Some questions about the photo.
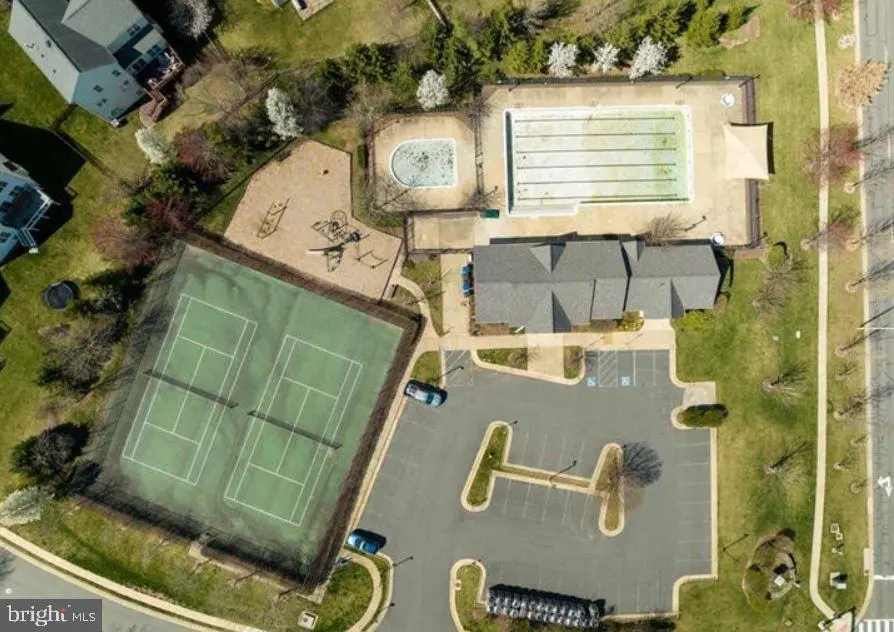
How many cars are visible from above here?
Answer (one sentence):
The number of cars here is 2.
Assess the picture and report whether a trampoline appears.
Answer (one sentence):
Yes, the frame does contain a trampoline.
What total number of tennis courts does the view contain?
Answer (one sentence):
I count 2 tennis courts.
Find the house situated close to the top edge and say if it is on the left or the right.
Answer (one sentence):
The house situated close to the top edge is on the left side of the image.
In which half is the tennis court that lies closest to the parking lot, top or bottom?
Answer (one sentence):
You can find the tennis court that lies closest to the parking lot in the bottom half.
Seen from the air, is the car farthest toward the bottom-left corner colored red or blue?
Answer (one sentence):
In this view, the car farthest toward the bottom-left corner is blue.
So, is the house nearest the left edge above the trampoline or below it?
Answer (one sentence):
The house nearest the left edge is found above the trampoline in the photo.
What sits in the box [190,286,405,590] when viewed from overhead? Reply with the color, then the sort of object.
green tennis court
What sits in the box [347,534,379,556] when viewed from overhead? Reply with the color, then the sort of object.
blue car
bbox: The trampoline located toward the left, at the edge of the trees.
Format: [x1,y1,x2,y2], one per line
[43,284,73,310]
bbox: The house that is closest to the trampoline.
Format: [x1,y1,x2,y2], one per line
[0,150,63,268]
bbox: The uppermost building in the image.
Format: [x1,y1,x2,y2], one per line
[4,0,192,127]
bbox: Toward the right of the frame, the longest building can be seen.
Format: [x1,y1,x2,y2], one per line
[472,242,720,333]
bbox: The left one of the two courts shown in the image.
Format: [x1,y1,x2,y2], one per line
[77,244,296,541]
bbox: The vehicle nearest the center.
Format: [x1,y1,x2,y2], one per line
[406,385,442,405]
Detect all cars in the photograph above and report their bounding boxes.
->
[406,385,442,405]
[347,534,379,556]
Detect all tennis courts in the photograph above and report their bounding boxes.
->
[190,286,405,590]
[77,244,296,541]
